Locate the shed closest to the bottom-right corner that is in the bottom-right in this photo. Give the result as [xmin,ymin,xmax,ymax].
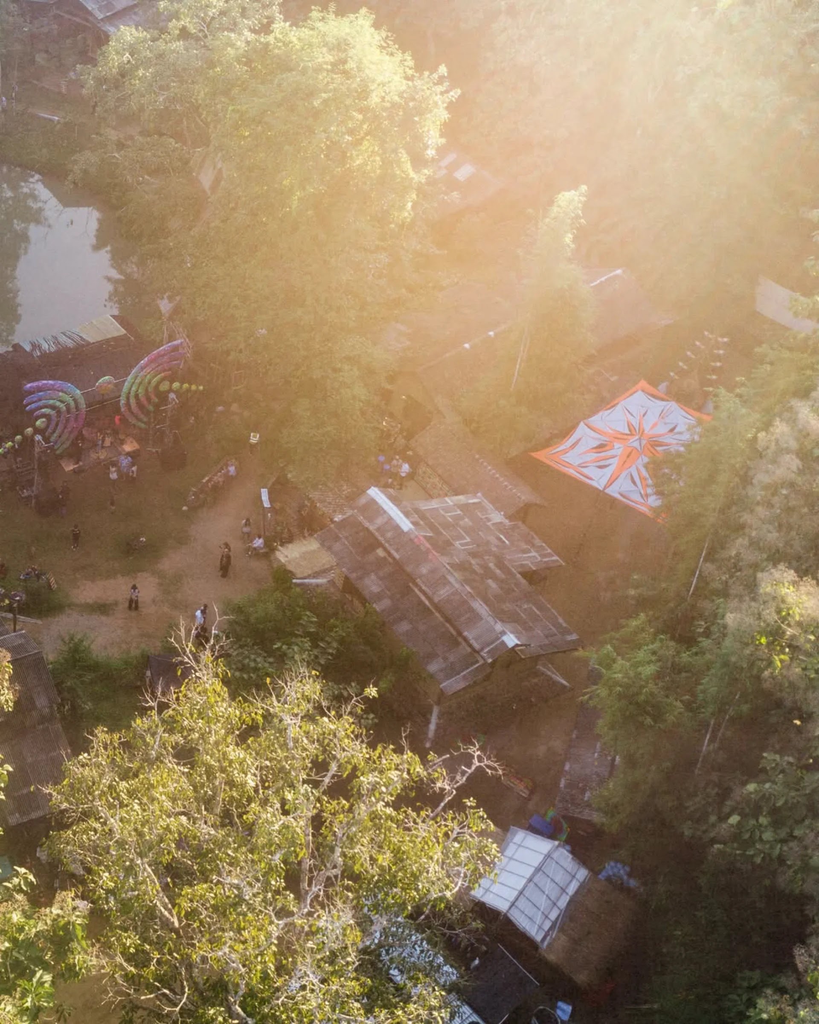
[534,868,673,1005]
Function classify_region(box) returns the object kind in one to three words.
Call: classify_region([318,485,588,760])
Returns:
house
